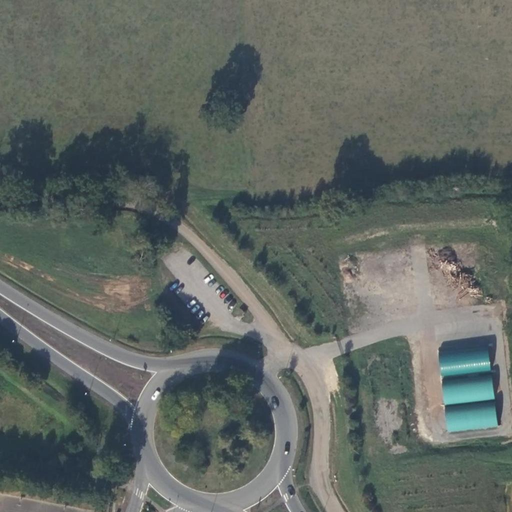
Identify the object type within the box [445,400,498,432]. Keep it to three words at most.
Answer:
barn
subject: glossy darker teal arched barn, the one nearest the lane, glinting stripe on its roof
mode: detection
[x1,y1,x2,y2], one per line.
[439,344,491,375]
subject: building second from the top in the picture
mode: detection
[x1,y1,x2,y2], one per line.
[442,371,495,404]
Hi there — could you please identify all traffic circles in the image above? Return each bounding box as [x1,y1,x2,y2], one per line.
[0,294,297,512]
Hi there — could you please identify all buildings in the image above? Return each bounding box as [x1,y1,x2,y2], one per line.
[439,344,491,375]
[445,400,498,432]
[442,371,495,404]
